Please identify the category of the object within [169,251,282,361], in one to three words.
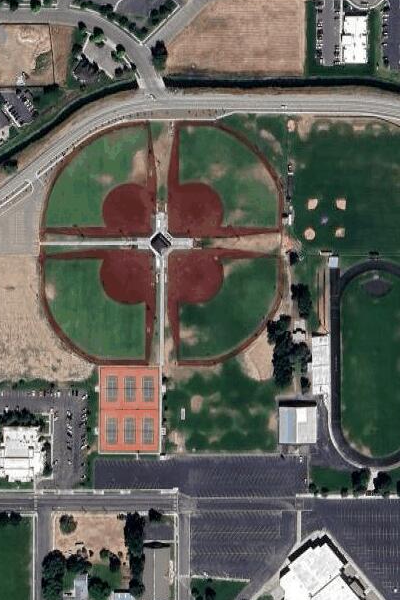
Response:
baseball field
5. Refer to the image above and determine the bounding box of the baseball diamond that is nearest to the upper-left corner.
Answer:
[42,120,157,236]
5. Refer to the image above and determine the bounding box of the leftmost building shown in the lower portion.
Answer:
[0,424,48,483]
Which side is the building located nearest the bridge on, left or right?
left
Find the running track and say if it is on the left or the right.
right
